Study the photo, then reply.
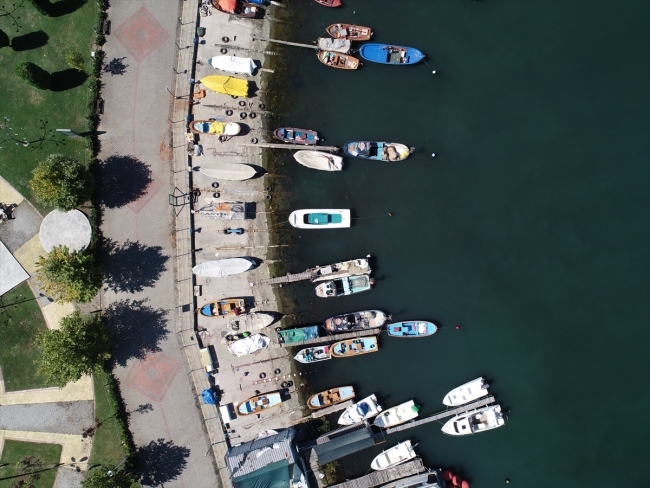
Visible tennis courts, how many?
none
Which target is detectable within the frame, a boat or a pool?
boat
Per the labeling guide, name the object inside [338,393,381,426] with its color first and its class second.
white boat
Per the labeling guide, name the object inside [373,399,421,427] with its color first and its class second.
white boat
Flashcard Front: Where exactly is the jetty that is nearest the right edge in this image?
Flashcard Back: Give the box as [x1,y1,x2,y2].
[385,394,496,435]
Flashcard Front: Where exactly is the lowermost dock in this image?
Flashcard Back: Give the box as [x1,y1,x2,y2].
[317,457,423,488]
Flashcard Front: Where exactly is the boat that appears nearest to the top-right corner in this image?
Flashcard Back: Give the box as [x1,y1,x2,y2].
[359,43,425,66]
